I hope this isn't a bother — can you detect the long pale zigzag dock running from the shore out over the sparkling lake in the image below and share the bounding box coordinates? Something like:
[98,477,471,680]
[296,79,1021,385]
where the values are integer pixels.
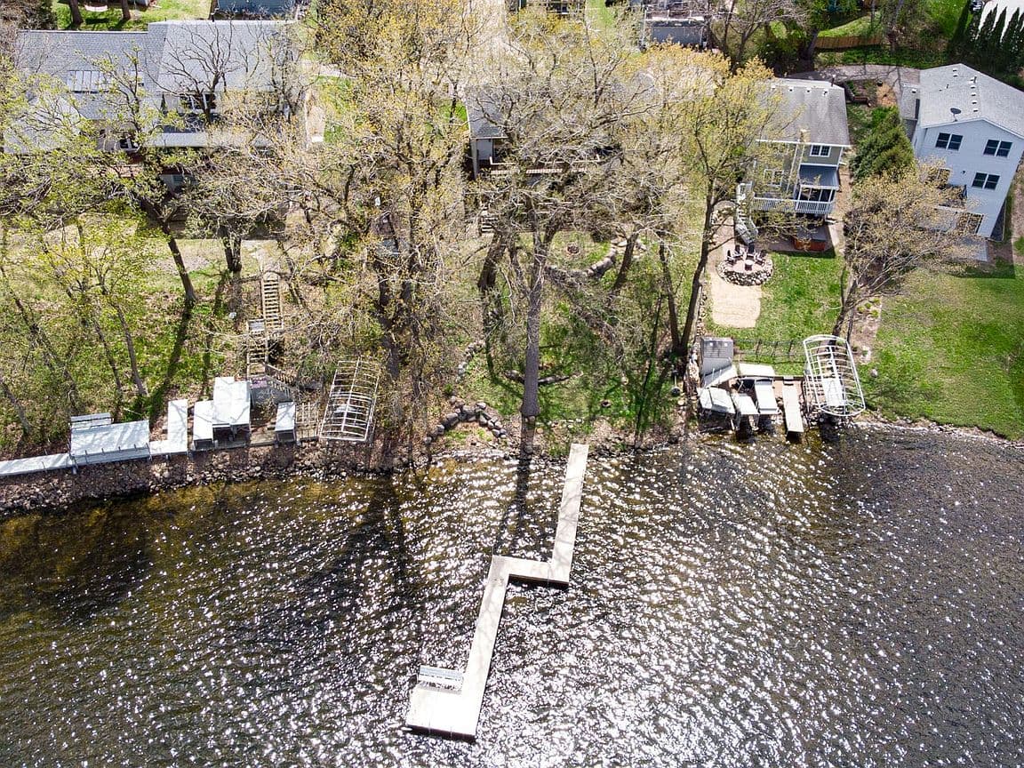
[403,442,589,749]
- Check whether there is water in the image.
Yes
